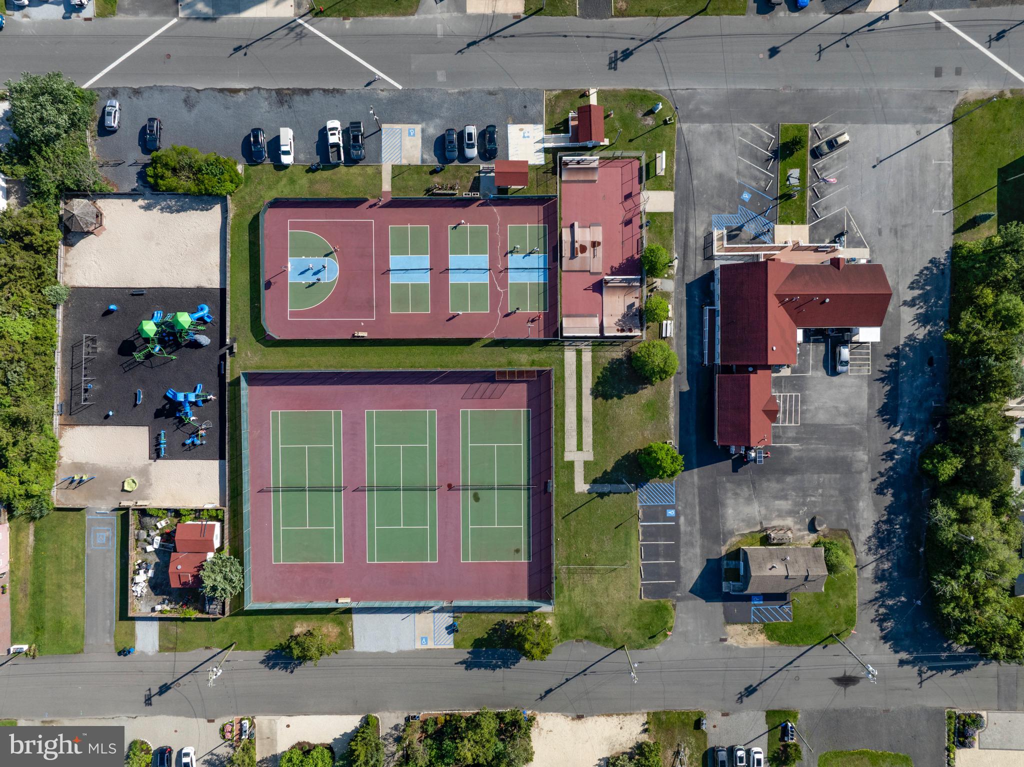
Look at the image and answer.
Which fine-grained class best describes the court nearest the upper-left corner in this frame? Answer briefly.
basketball court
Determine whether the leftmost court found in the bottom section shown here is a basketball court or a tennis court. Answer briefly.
tennis court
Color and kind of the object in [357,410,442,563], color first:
green tennis court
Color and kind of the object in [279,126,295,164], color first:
white vehicle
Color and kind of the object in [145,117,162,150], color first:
black car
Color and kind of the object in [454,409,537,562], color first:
green tennis court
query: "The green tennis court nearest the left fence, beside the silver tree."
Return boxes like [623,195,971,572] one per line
[261,410,347,563]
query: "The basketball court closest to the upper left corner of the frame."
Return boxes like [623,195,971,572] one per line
[288,220,375,320]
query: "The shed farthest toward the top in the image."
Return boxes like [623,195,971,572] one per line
[544,104,608,147]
